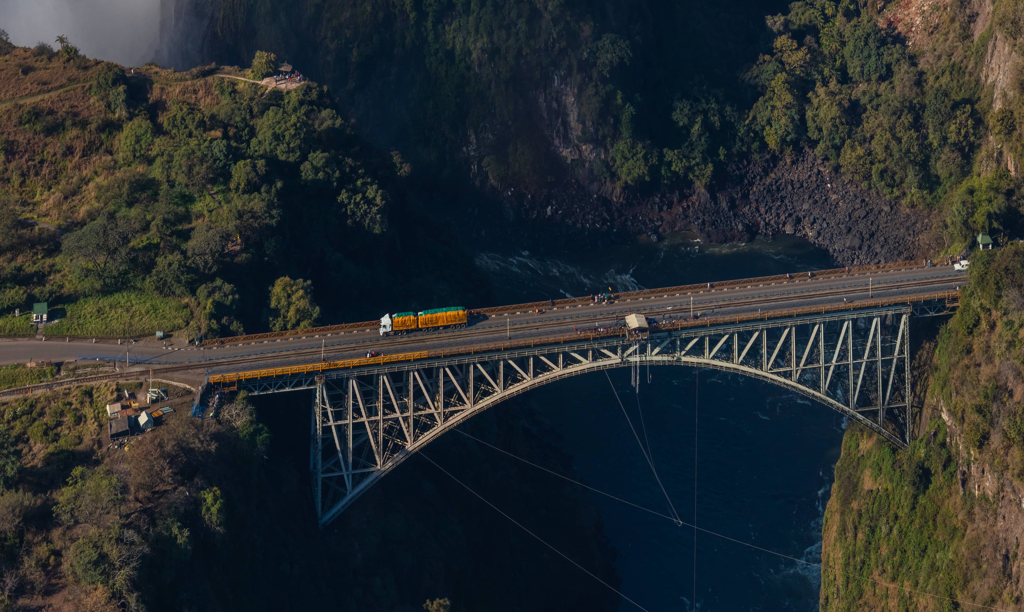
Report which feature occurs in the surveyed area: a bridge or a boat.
bridge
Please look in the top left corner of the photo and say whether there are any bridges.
No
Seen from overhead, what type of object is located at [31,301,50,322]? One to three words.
shed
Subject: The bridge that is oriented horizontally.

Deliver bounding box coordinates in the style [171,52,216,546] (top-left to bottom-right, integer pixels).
[193,253,988,529]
